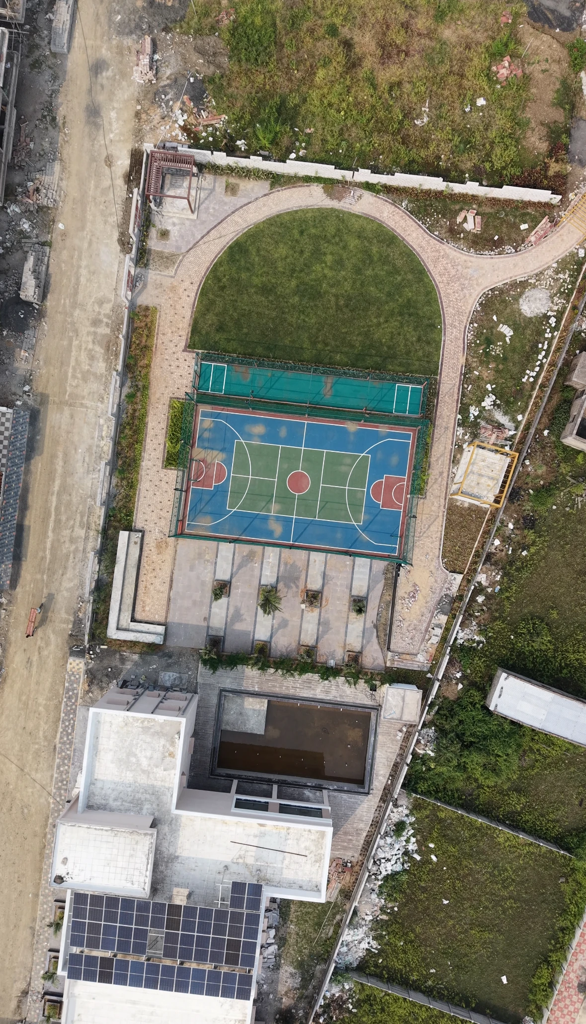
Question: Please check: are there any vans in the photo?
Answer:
No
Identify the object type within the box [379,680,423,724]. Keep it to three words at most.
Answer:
building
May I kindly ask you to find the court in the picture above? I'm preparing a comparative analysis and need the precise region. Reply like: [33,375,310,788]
[182,405,419,559]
